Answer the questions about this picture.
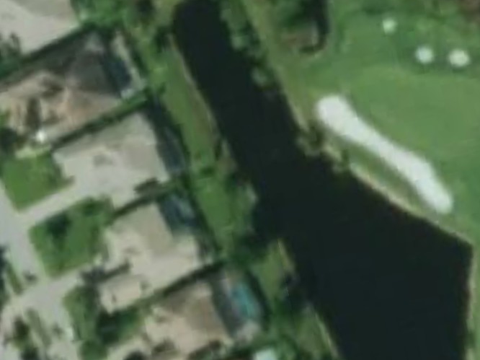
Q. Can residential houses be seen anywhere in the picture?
Yes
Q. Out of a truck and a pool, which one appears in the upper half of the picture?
pool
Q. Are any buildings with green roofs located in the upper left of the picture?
No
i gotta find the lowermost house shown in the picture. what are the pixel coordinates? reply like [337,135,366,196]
[144,288,232,360]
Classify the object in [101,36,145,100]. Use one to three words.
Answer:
swimming pool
